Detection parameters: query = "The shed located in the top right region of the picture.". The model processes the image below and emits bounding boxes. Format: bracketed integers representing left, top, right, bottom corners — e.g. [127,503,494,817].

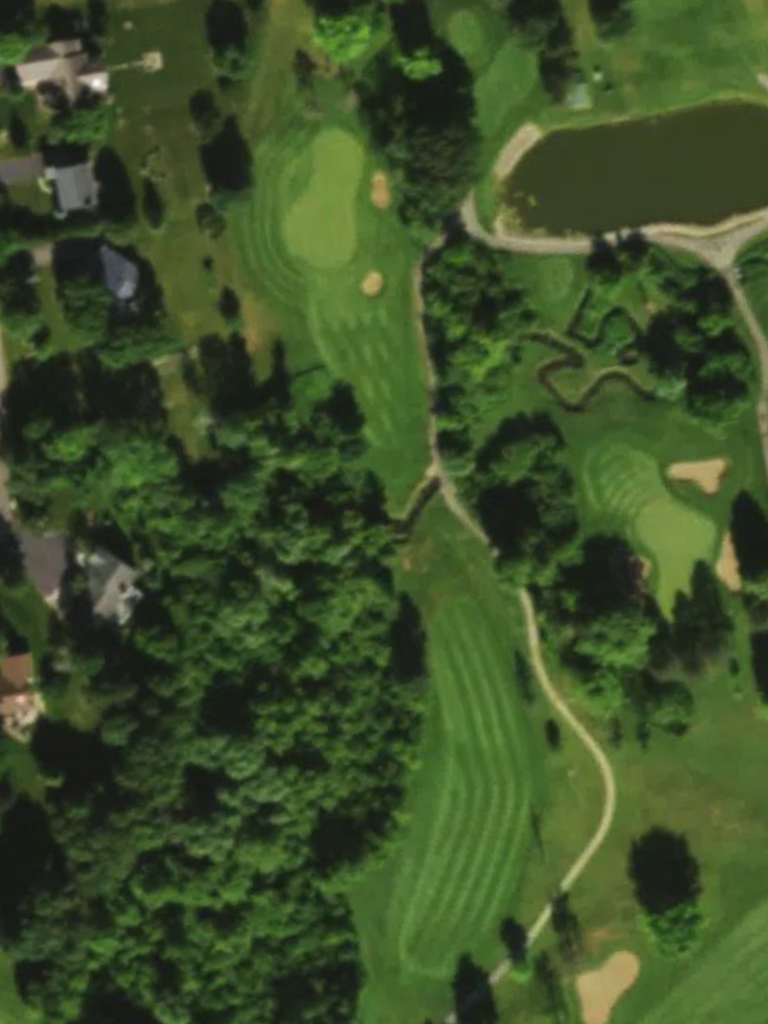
[570,83,589,108]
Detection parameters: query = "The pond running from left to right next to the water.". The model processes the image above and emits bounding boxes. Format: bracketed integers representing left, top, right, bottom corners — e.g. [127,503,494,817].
[501,102,768,234]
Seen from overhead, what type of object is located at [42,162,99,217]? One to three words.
house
